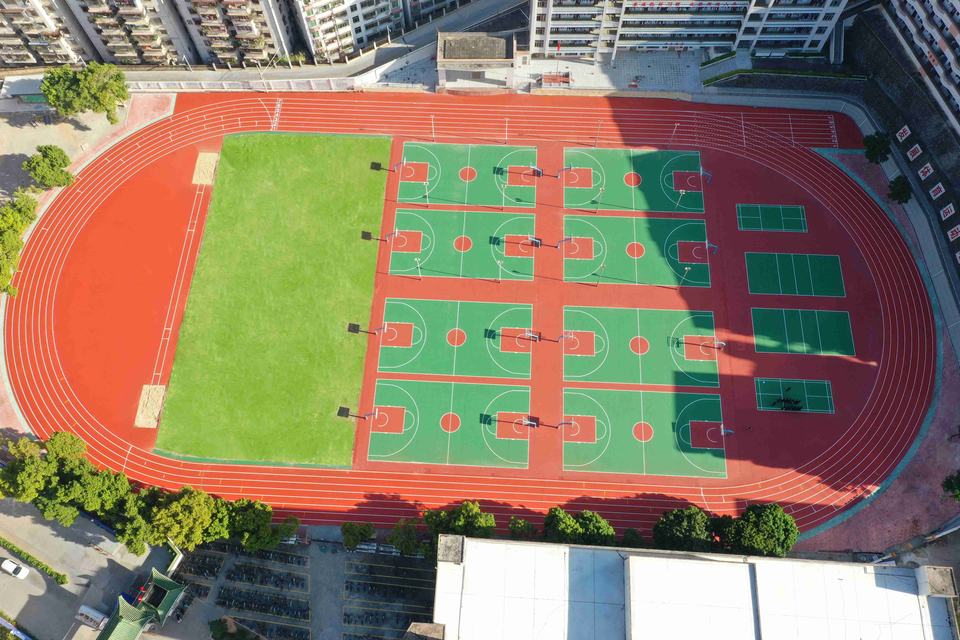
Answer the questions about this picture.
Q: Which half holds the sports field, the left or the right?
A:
left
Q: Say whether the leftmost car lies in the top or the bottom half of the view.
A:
bottom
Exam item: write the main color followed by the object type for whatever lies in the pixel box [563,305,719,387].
green basketball court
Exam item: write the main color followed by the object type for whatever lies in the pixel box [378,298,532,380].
green basketball court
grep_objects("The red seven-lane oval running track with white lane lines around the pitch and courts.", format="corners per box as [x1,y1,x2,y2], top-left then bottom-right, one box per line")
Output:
[0,92,944,543]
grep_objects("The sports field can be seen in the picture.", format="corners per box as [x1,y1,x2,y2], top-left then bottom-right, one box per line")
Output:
[154,130,391,469]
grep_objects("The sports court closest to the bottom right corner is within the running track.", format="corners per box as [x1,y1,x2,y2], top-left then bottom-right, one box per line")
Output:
[755,378,834,413]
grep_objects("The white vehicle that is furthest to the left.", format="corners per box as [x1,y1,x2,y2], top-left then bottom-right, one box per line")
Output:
[0,558,30,581]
